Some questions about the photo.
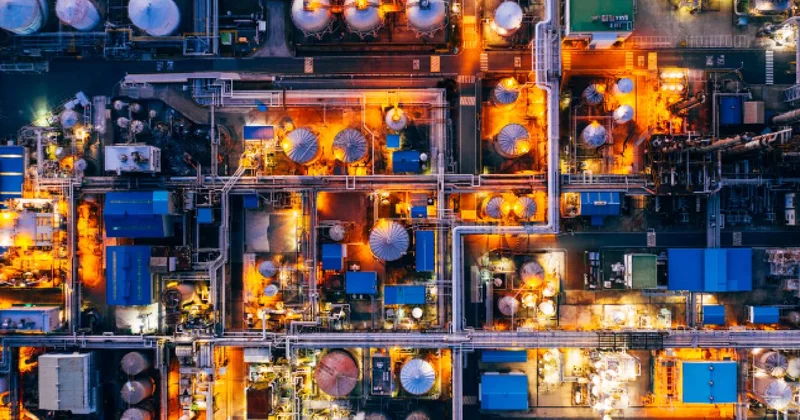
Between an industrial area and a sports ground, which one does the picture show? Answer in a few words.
industrial area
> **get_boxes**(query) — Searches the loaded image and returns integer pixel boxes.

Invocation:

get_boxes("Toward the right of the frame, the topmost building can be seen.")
[560,0,634,37]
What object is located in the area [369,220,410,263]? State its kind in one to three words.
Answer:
storage tank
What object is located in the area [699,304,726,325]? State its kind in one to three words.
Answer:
building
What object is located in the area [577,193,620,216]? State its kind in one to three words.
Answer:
building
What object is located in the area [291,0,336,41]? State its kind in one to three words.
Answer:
storage tank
